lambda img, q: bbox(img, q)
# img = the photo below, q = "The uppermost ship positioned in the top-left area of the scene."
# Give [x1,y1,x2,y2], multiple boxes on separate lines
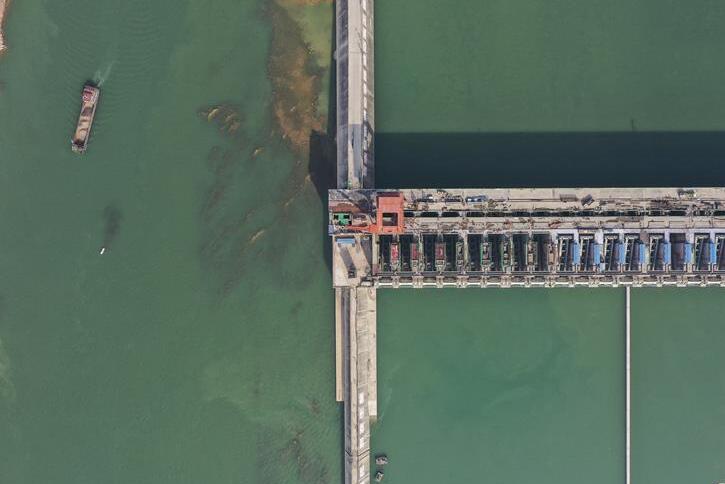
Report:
[71,83,98,153]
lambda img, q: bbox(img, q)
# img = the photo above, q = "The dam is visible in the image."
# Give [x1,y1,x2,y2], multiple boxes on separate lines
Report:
[371,188,725,287]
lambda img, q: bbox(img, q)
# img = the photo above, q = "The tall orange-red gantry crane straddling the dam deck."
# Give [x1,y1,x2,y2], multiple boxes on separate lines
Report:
[346,192,404,236]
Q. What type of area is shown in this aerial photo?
port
